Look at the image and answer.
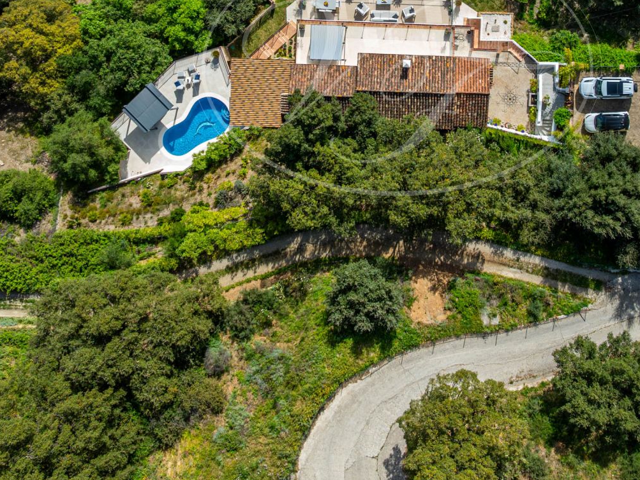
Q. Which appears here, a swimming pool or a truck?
swimming pool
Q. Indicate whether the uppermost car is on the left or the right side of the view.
right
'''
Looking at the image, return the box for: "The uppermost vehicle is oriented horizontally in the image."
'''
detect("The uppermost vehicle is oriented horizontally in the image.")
[579,74,640,103]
